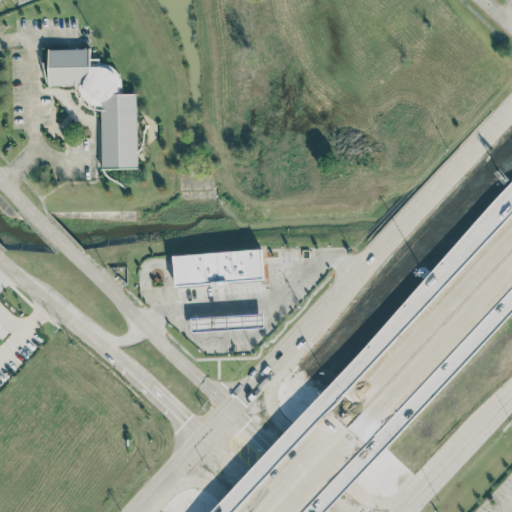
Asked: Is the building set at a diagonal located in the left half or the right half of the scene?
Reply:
left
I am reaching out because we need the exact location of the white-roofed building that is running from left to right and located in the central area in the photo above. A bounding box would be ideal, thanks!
[172,249,264,288]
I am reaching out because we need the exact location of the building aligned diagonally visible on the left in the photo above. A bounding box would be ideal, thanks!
[46,48,138,169]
